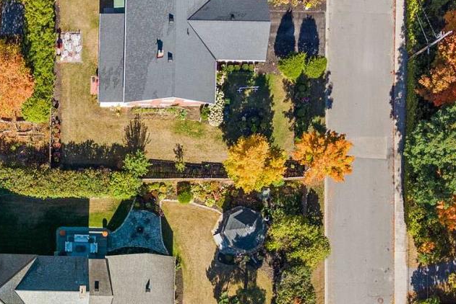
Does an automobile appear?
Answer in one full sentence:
No, no automobile is visible in the scene.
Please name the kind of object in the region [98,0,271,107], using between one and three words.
house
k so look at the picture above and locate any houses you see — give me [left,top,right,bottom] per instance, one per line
[0,252,175,304]
[98,0,271,107]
